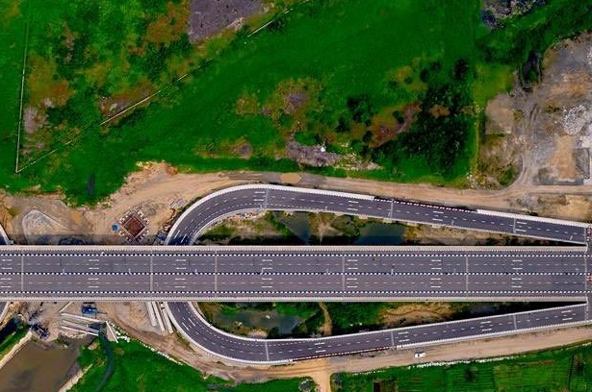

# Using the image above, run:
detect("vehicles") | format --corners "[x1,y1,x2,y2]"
[415,351,429,358]
[80,307,106,315]
[27,316,48,339]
